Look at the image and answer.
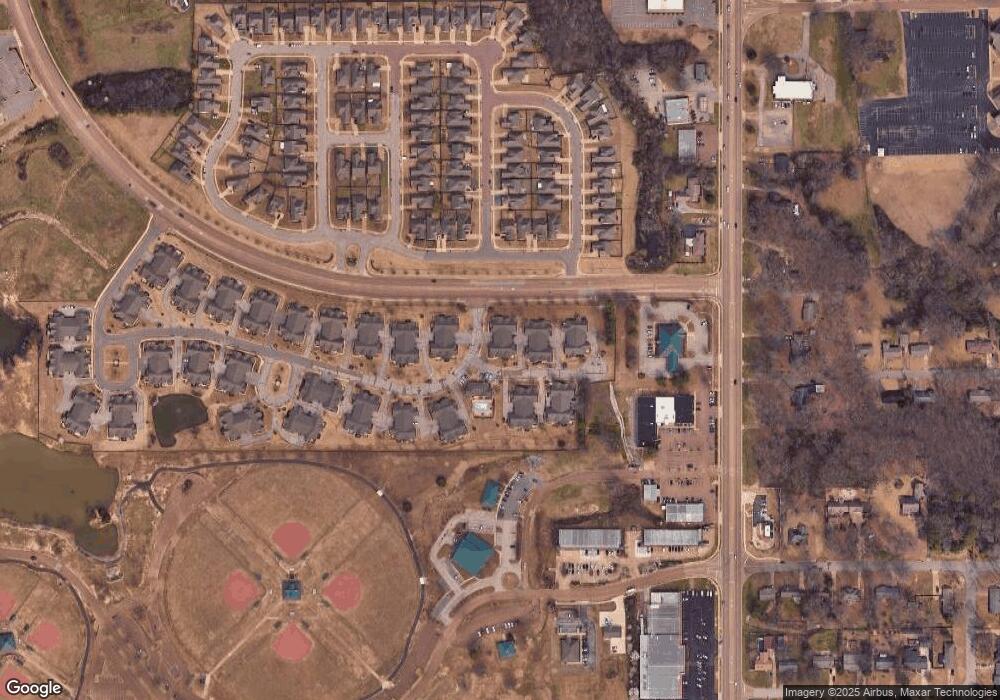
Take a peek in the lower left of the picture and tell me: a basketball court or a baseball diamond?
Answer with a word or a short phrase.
baseball diamond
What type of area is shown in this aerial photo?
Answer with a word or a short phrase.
residential area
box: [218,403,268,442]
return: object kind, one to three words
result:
building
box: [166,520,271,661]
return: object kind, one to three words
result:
baseball field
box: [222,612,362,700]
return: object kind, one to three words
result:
baseball field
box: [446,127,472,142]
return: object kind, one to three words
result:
house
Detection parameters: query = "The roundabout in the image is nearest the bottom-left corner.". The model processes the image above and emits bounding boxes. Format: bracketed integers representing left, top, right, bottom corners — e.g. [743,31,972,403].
[95,334,139,393]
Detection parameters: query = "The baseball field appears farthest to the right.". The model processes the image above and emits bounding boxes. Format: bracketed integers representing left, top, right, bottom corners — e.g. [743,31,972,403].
[313,520,418,661]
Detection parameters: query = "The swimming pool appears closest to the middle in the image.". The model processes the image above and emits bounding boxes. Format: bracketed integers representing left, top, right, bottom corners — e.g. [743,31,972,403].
[472,397,492,418]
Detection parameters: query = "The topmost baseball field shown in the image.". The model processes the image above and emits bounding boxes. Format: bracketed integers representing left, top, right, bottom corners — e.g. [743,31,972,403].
[222,465,362,569]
